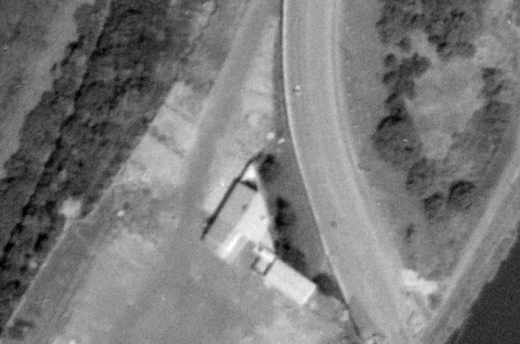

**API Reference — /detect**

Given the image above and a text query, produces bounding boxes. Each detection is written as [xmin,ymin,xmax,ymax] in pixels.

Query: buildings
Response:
[264,258,315,304]
[203,182,268,263]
